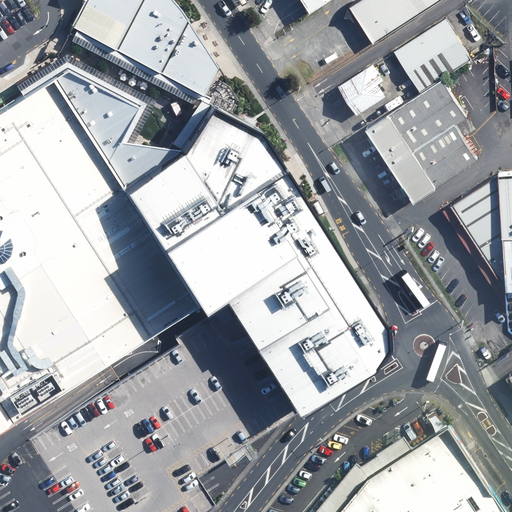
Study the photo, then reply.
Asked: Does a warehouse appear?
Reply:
Yes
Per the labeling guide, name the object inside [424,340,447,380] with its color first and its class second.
white bus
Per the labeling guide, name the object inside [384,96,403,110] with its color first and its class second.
white camper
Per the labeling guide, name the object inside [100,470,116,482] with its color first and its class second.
blue vehicle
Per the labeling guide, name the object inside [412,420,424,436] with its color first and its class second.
red vehicle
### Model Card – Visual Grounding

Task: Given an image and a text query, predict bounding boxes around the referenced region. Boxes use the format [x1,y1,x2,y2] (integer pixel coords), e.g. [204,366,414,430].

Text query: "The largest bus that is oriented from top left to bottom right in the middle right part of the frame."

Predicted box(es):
[400,272,429,308]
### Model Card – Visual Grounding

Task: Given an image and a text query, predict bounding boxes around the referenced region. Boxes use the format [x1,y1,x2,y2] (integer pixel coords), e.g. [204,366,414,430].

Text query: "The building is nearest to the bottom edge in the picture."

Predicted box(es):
[314,424,506,512]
